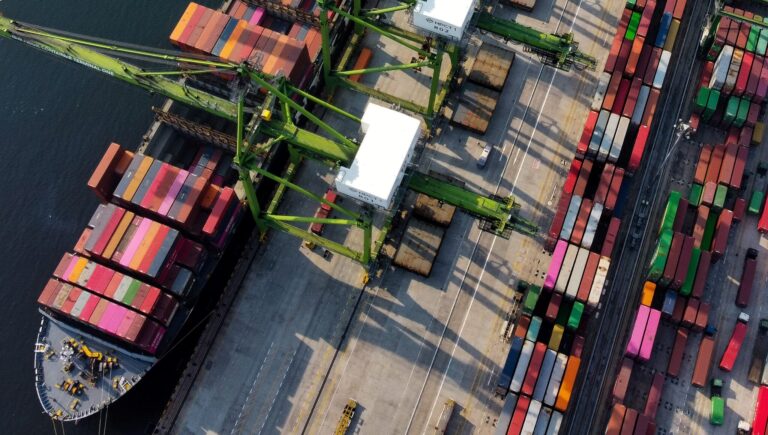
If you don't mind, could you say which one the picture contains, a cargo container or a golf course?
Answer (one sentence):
There is a cargo container in the scene.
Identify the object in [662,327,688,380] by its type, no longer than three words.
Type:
shipping container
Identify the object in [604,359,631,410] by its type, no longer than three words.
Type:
shipping container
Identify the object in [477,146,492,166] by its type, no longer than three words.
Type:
vehicle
